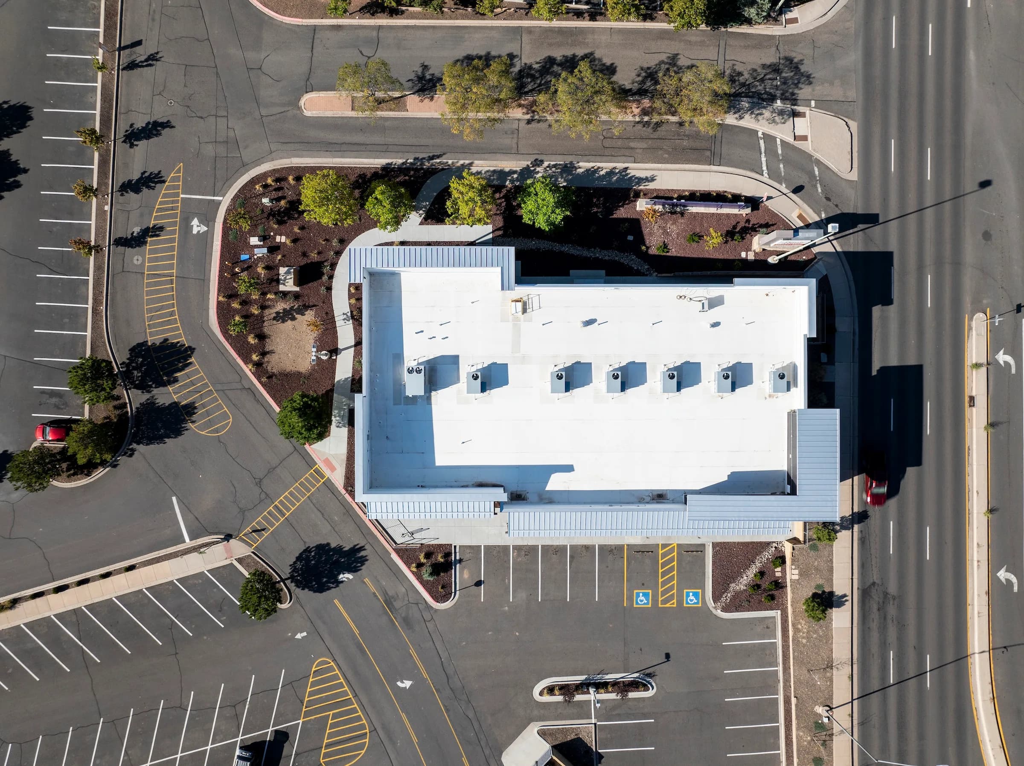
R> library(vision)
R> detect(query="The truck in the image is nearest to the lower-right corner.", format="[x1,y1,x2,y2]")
[863,450,891,507]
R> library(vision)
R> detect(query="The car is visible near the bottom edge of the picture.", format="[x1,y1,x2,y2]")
[232,745,258,766]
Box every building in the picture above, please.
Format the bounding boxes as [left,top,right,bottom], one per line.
[349,246,841,536]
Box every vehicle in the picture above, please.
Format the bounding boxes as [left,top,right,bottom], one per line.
[38,421,83,444]
[232,745,258,766]
[863,450,891,507]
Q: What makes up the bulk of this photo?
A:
paved ground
